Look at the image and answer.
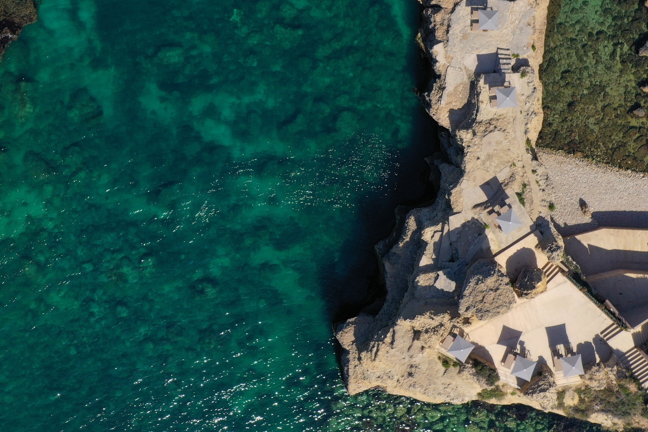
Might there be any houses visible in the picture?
No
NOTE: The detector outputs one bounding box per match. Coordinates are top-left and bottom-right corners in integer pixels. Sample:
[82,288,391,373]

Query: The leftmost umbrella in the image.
[445,335,474,363]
